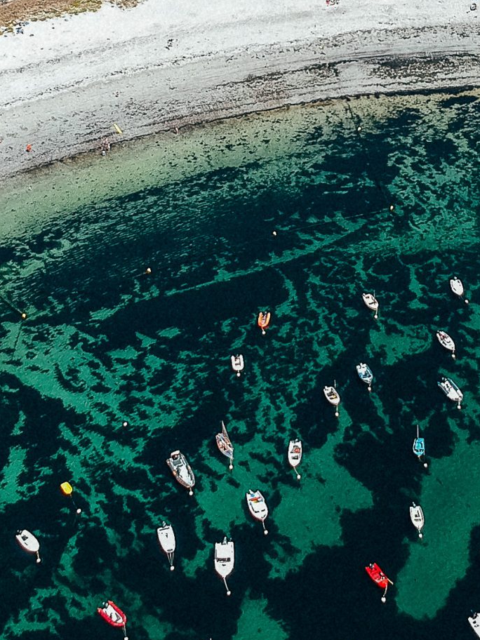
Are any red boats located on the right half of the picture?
Yes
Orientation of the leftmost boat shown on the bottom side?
diagonally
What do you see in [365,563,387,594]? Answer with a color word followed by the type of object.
red boat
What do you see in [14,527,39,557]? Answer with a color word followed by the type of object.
white boat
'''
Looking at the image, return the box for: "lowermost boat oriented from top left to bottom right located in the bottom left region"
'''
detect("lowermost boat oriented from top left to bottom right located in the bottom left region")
[96,599,126,632]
